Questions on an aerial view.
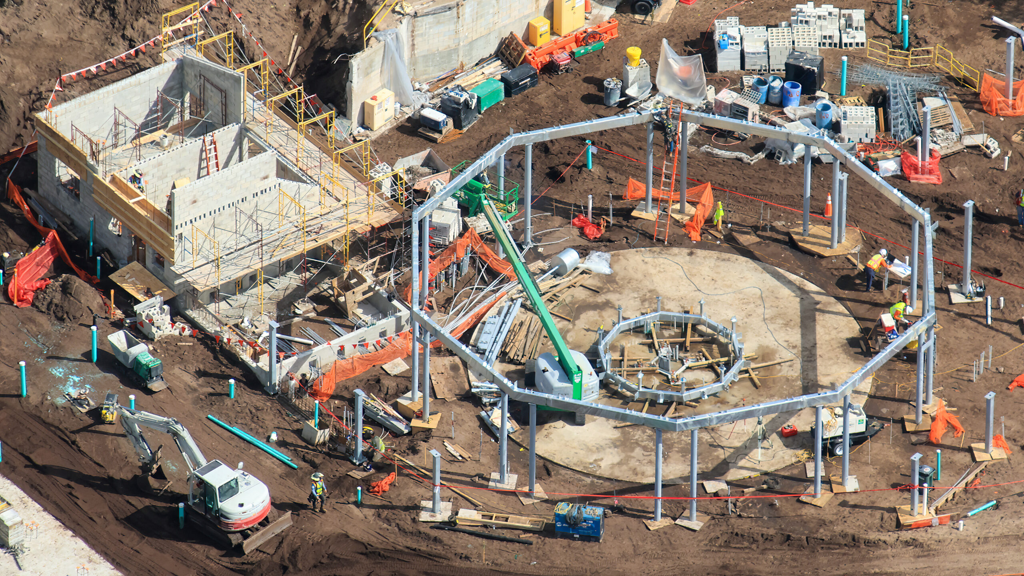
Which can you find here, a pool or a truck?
truck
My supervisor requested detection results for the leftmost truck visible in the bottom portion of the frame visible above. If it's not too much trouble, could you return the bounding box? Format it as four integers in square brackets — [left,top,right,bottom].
[104,328,176,399]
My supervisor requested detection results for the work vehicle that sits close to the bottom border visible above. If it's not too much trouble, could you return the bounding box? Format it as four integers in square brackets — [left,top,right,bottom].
[118,386,296,559]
